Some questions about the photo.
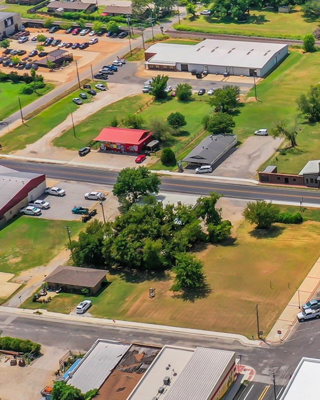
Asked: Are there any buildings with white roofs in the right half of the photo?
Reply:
Yes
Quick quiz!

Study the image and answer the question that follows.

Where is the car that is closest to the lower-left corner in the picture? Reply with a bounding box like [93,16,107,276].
[75,294,90,313]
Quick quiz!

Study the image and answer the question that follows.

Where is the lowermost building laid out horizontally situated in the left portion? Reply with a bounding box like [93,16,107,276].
[43,265,111,298]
